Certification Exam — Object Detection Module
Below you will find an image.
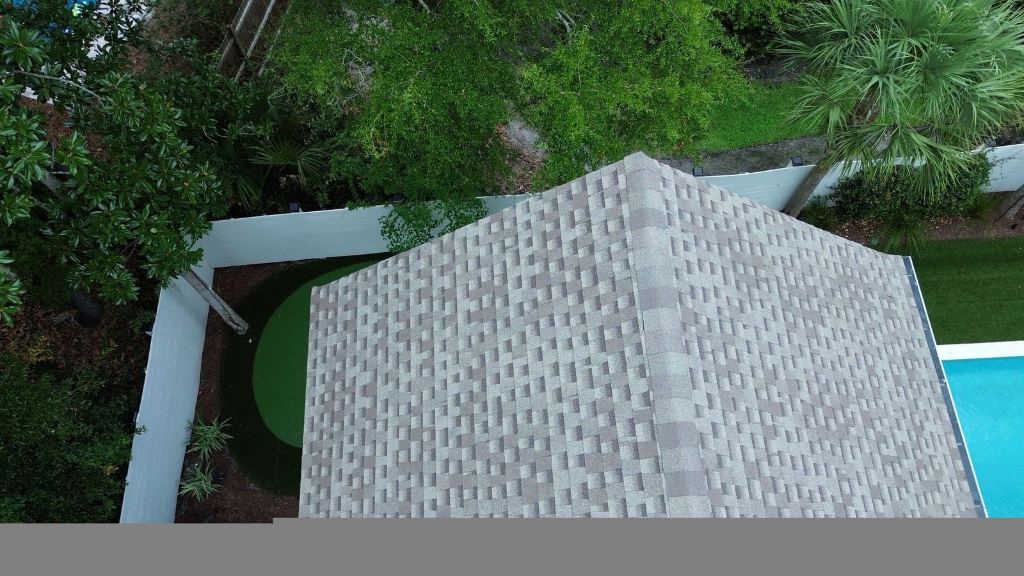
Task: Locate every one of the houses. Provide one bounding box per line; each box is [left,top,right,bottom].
[296,155,1015,576]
